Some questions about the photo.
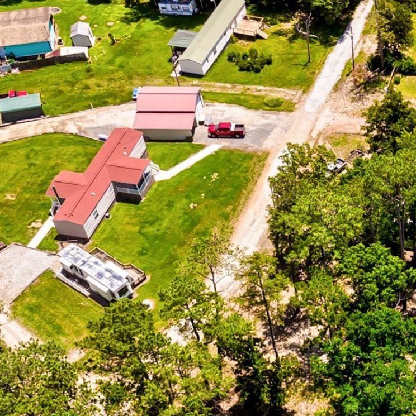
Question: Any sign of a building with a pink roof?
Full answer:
Yes, a building with a pink roof is visible in the scene.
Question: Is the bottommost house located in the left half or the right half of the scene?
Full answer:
The bottommost house sits on the left side.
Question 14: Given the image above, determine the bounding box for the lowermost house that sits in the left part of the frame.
[46,128,163,241]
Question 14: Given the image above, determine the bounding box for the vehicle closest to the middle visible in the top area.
[205,123,246,139]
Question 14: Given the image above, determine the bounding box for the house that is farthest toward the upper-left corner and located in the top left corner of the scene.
[0,6,56,68]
